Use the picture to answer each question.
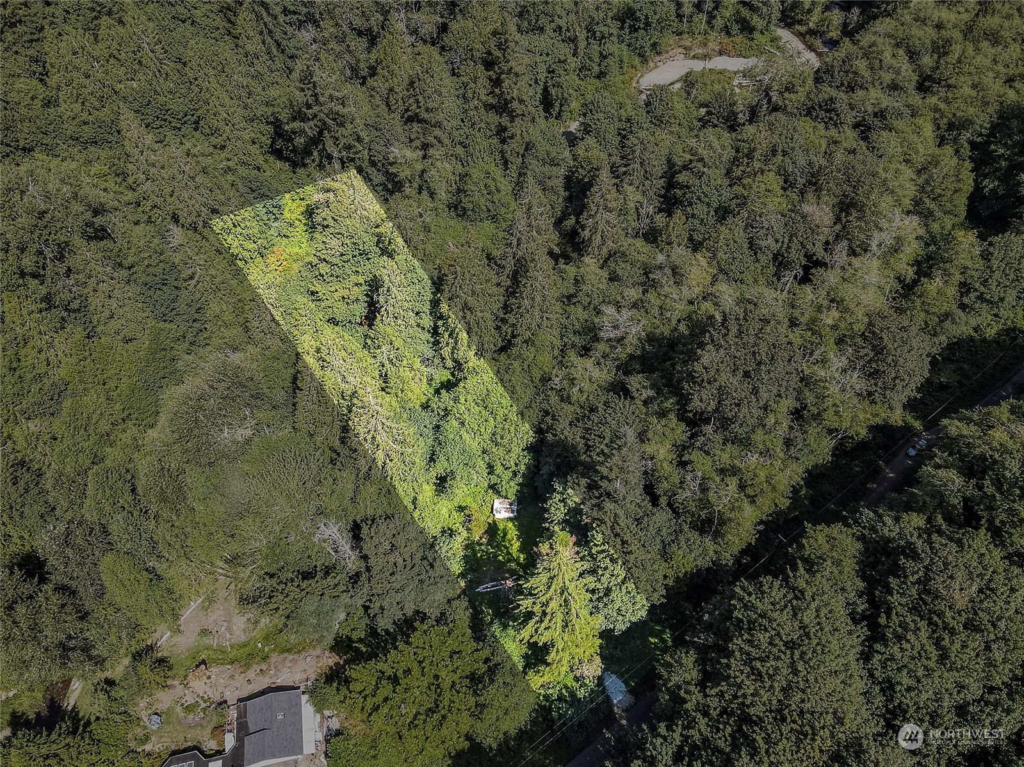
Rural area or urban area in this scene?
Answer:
rural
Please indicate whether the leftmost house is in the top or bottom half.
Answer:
bottom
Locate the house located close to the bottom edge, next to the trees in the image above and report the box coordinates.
[161,691,333,767]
